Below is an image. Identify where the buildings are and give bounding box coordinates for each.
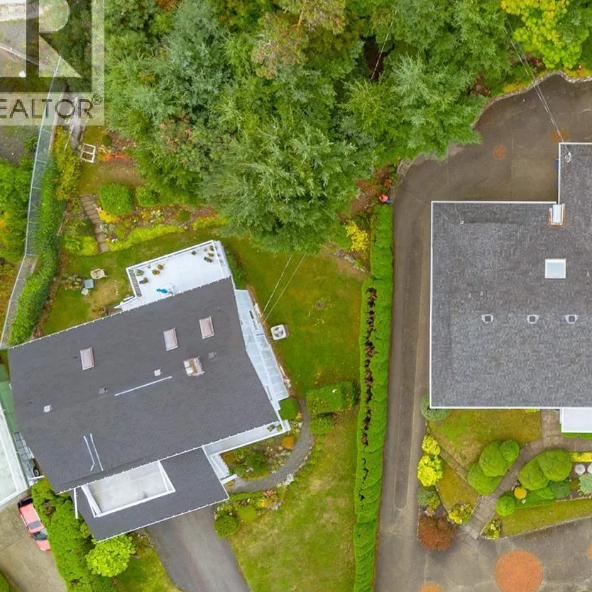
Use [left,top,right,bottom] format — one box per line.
[429,142,592,435]
[8,238,304,542]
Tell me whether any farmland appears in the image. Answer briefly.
No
